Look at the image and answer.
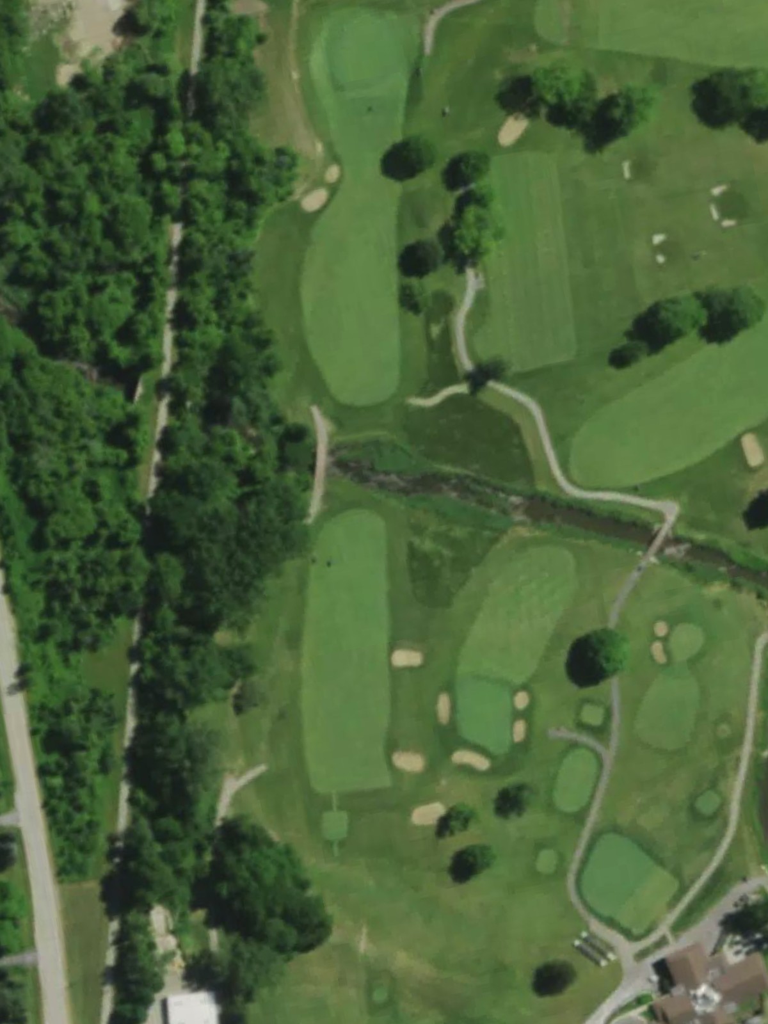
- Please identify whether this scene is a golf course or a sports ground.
golf course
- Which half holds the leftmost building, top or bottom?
bottom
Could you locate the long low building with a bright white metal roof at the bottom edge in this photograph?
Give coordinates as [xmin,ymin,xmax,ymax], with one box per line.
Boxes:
[167,991,217,1024]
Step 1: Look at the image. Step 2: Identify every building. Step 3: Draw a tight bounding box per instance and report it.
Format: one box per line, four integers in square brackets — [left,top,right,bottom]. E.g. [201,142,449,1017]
[648,941,768,1024]
[167,991,217,1024]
